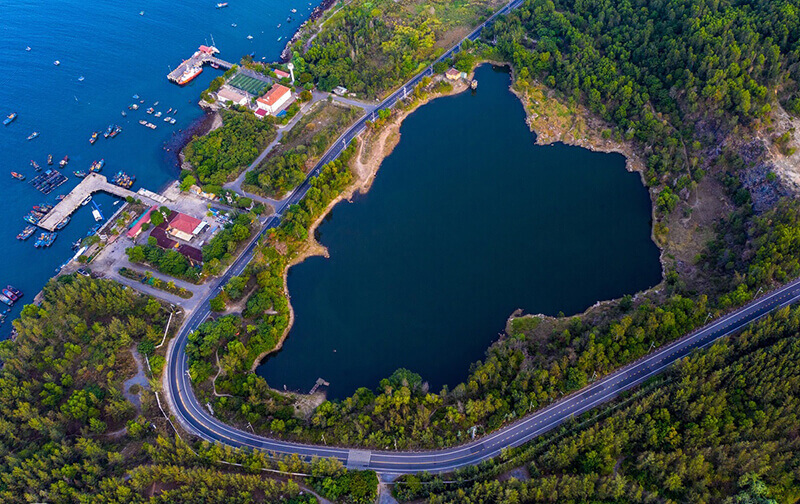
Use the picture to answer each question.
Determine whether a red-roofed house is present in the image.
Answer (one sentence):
Yes, there's a red-roofed house down there.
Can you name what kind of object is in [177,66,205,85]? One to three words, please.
ship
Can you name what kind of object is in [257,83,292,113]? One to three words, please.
building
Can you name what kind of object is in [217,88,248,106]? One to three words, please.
building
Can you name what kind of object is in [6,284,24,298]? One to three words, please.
boat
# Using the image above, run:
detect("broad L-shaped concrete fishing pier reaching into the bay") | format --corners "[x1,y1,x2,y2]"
[37,170,137,231]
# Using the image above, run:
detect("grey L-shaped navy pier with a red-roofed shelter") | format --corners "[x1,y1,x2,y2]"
[166,51,234,80]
